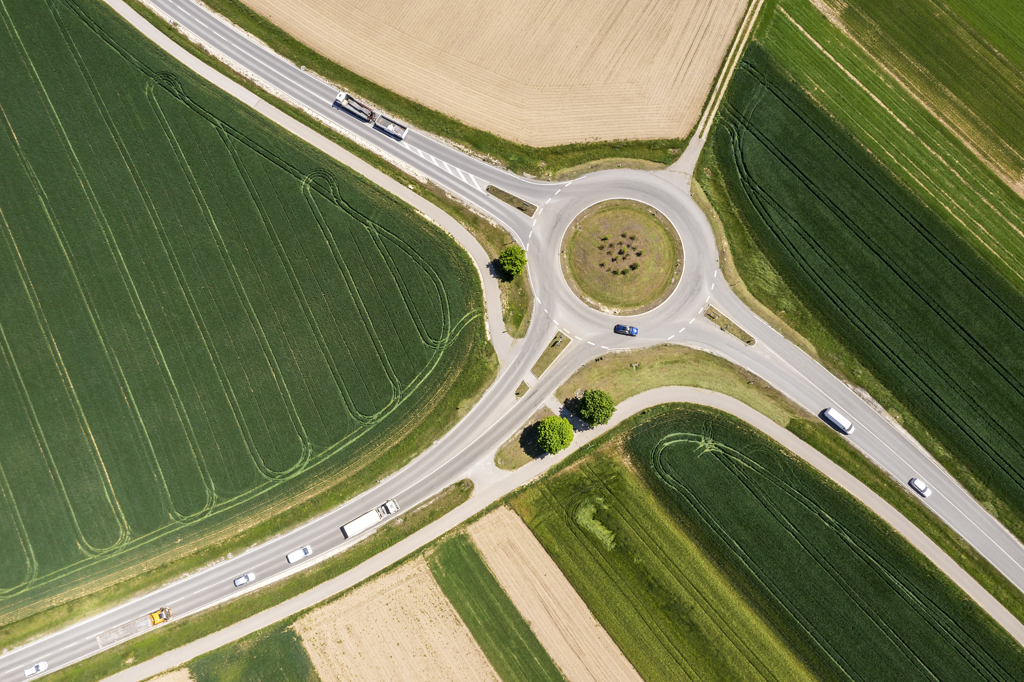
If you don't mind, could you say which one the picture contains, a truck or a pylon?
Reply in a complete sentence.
The one in the frame is a truck.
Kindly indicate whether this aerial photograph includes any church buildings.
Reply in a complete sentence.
No, I can't see a single church building in this photo.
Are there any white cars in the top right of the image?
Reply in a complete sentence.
No, no white car appears in the top right of the image.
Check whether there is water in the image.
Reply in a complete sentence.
No, the picture contains no water.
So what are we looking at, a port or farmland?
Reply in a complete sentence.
The picture captures farmland.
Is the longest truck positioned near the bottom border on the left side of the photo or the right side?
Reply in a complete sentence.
It is on the left.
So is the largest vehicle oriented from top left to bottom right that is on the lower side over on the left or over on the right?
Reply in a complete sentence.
The largest vehicle oriented from top left to bottom right that is on the lower side appears in the right half of the scene.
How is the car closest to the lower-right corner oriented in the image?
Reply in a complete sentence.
The car closest to the lower-right corner runs diagonally in the image.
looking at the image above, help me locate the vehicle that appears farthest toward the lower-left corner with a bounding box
[24,662,48,679]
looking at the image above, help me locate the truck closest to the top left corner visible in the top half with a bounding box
[332,86,377,121]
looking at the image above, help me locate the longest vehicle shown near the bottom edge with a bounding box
[97,605,175,648]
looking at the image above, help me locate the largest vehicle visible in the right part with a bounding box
[823,408,856,433]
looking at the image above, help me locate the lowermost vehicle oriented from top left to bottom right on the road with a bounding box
[908,477,933,497]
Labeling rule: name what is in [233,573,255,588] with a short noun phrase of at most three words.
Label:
car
